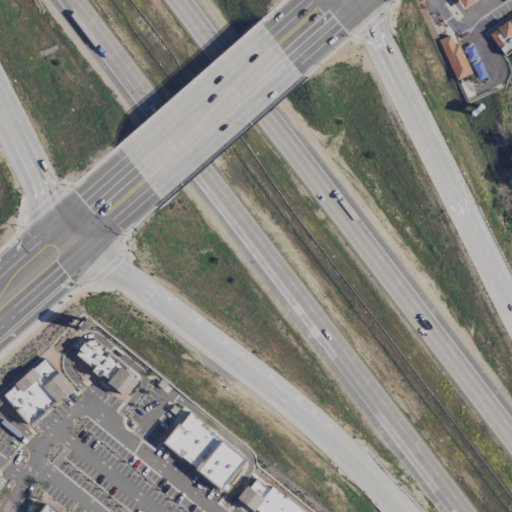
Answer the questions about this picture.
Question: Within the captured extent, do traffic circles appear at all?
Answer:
No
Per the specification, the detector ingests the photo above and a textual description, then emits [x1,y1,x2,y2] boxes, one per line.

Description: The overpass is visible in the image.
[117,19,308,212]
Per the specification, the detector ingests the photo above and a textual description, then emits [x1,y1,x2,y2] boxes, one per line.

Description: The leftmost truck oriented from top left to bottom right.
[1,420,28,442]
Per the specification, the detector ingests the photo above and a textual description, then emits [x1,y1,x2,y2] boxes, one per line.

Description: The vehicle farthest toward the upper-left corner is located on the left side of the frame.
[77,22,106,58]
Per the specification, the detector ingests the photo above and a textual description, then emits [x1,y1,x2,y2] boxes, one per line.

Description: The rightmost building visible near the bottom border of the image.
[240,480,305,512]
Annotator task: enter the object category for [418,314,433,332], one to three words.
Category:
vehicle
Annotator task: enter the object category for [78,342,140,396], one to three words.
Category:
building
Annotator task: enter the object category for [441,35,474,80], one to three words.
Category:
building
